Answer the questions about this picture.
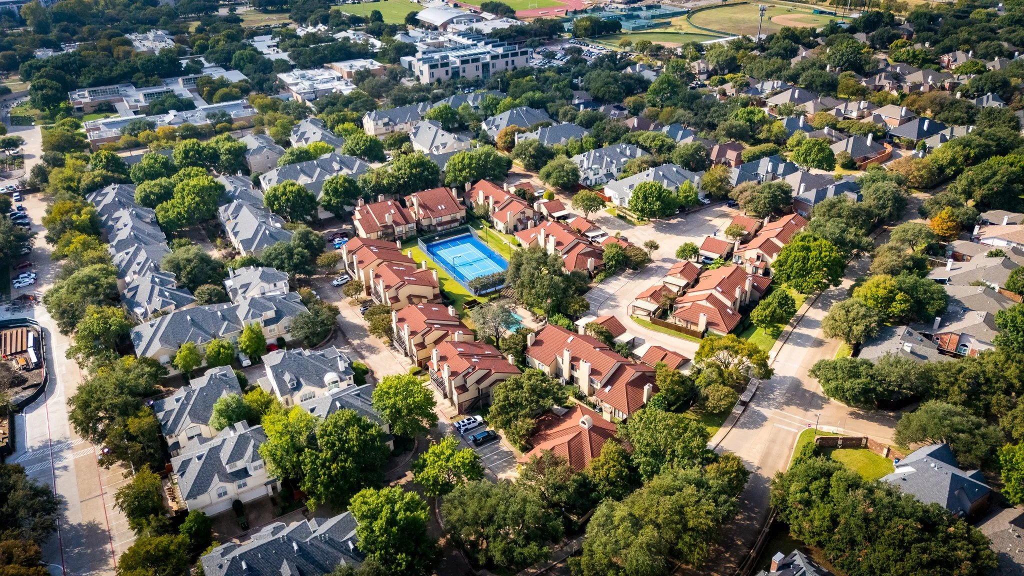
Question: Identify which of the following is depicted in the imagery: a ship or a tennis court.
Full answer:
Of the two, only a tennis court appears.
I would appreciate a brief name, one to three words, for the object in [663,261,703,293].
building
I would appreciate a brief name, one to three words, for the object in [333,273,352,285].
vehicle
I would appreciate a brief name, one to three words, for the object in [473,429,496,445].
car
